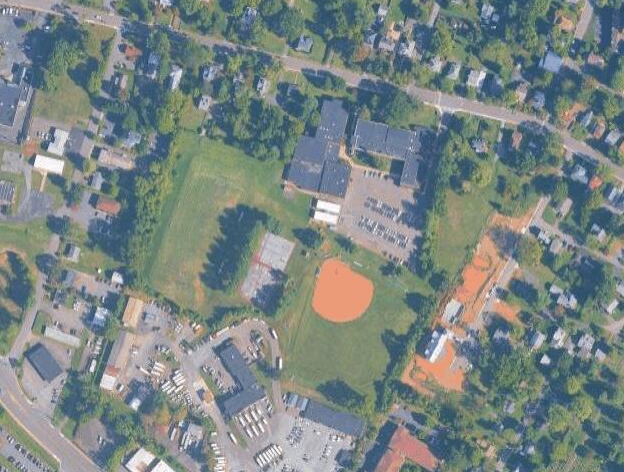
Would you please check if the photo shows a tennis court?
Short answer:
Yes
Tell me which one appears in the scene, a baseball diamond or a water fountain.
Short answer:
baseball diamond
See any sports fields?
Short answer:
Yes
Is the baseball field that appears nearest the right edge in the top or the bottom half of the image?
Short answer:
bottom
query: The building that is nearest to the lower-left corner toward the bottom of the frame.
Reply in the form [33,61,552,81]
[23,343,62,384]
